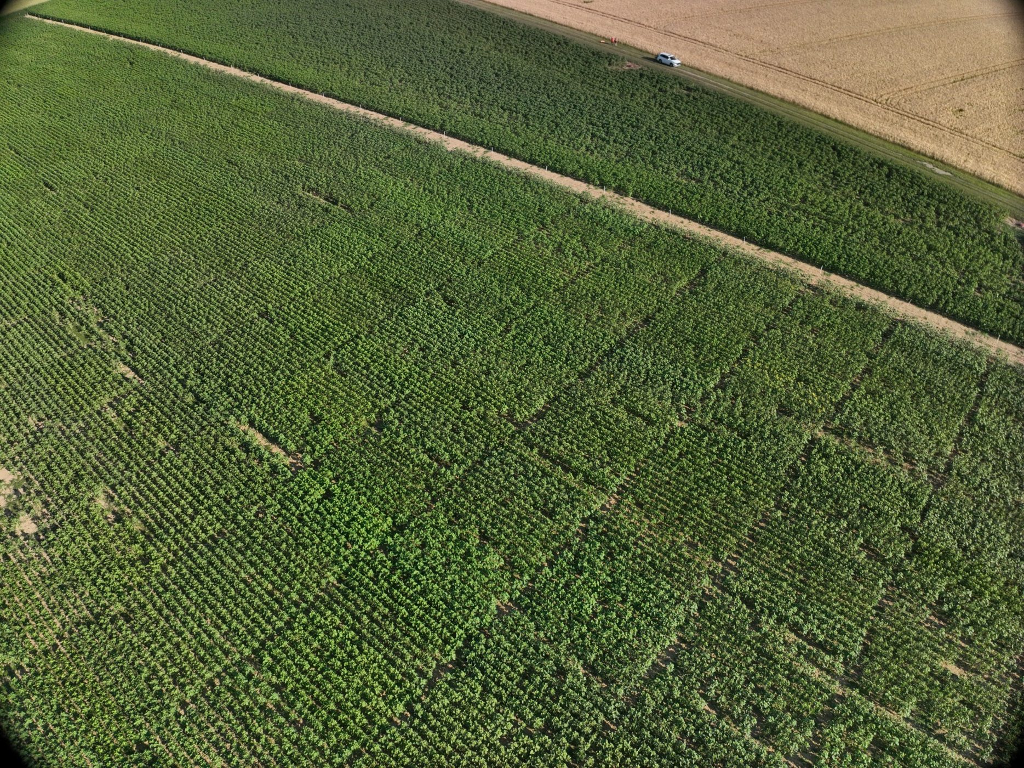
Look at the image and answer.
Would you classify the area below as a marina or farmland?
farmland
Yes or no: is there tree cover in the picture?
No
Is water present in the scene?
No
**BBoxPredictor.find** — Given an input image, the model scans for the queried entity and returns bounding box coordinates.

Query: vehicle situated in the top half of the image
[658,52,682,67]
